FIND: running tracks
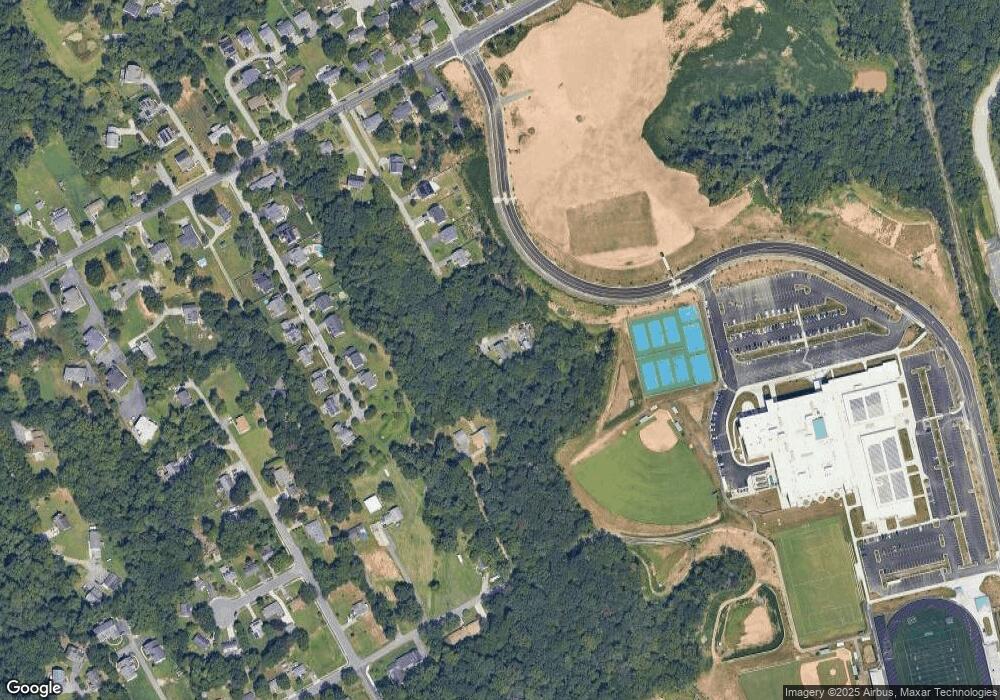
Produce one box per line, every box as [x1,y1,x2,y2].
[873,599,990,700]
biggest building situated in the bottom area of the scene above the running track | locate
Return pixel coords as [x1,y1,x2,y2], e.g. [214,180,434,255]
[739,360,916,523]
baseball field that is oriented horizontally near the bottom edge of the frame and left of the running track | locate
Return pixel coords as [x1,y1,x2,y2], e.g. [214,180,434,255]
[739,648,856,700]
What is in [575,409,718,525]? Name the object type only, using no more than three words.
baseball field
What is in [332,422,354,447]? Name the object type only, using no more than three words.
house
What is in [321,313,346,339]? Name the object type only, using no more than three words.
house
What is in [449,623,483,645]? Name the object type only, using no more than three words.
barn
